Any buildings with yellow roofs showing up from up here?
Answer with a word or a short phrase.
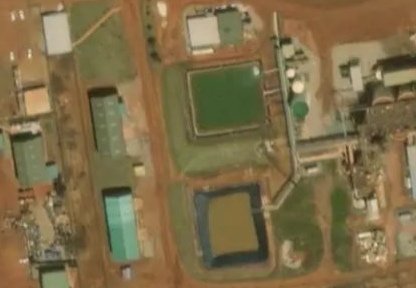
Yes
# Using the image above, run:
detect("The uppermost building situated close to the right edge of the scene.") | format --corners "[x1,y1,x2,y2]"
[383,70,416,87]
